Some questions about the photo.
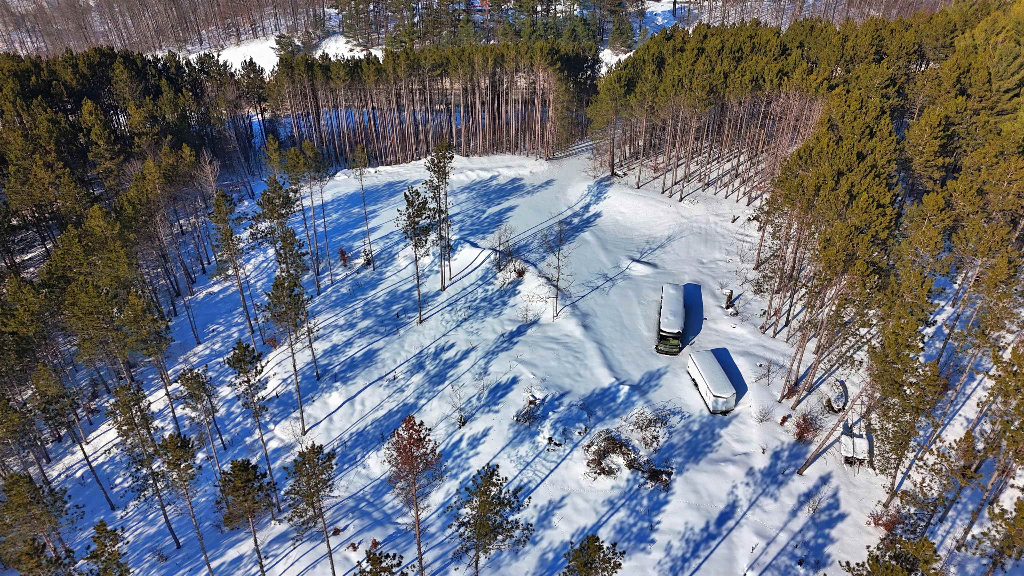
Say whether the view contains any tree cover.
Yes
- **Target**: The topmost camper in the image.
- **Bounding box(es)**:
[655,285,686,355]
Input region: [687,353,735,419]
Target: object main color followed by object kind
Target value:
white trailer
